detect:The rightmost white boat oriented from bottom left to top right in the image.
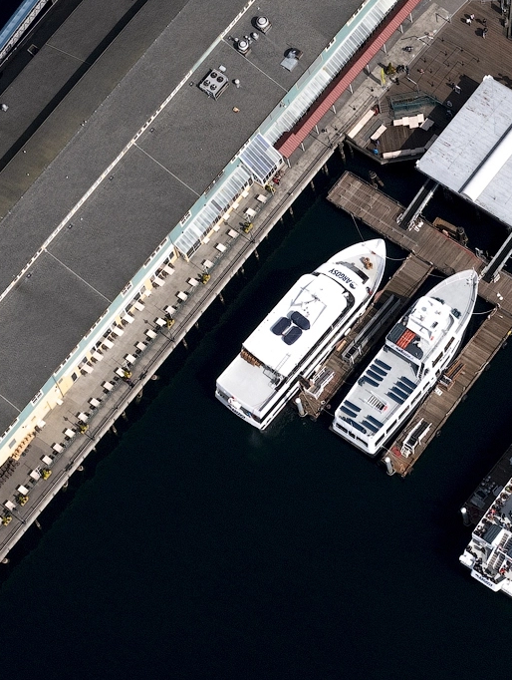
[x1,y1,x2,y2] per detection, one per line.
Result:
[328,268,478,458]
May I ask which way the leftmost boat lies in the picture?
at an angle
